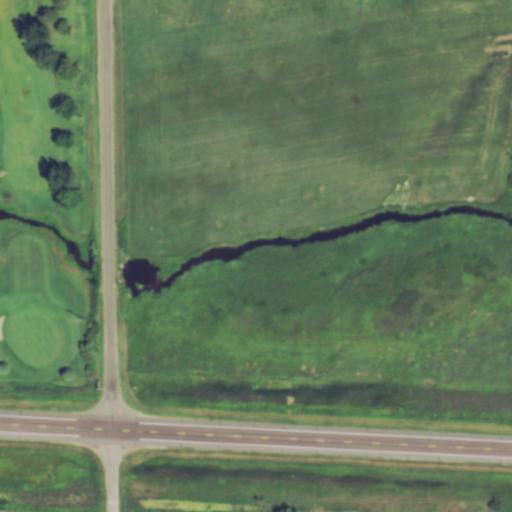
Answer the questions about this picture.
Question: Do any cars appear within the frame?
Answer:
No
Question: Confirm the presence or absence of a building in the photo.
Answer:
No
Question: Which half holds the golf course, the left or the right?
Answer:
left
